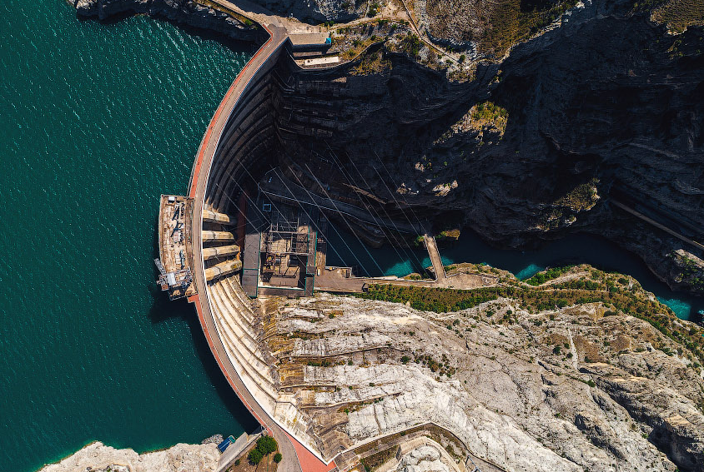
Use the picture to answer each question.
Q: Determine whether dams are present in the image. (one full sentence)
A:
Yes, the frame does contain a dam.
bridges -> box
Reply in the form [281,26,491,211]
[425,232,447,288]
